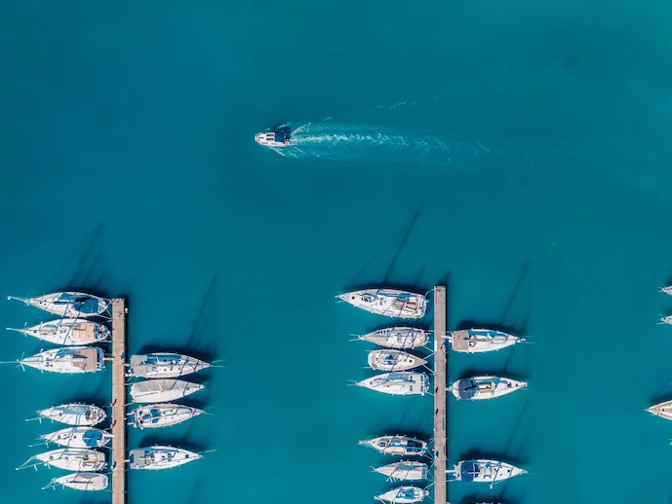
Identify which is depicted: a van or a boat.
boat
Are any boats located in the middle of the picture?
Yes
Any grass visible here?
No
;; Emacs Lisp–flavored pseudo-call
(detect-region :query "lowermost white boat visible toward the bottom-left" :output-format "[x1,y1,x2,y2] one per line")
[46,470,113,491]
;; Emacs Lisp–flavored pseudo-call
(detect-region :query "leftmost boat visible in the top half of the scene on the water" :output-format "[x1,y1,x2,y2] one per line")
[253,130,295,146]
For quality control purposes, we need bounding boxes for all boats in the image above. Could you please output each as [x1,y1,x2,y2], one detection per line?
[19,447,112,472]
[30,401,113,426]
[2,344,114,374]
[347,371,435,397]
[9,318,113,348]
[357,432,435,457]
[444,326,528,353]
[444,373,536,399]
[46,470,113,491]
[123,376,216,404]
[122,444,211,472]
[370,458,436,482]
[13,288,113,318]
[124,351,218,380]
[369,485,435,504]
[642,401,672,421]
[444,458,537,486]
[358,325,434,349]
[493,335,509,344]
[337,285,432,315]
[124,400,216,429]
[32,425,114,449]
[253,130,295,146]
[361,348,434,372]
